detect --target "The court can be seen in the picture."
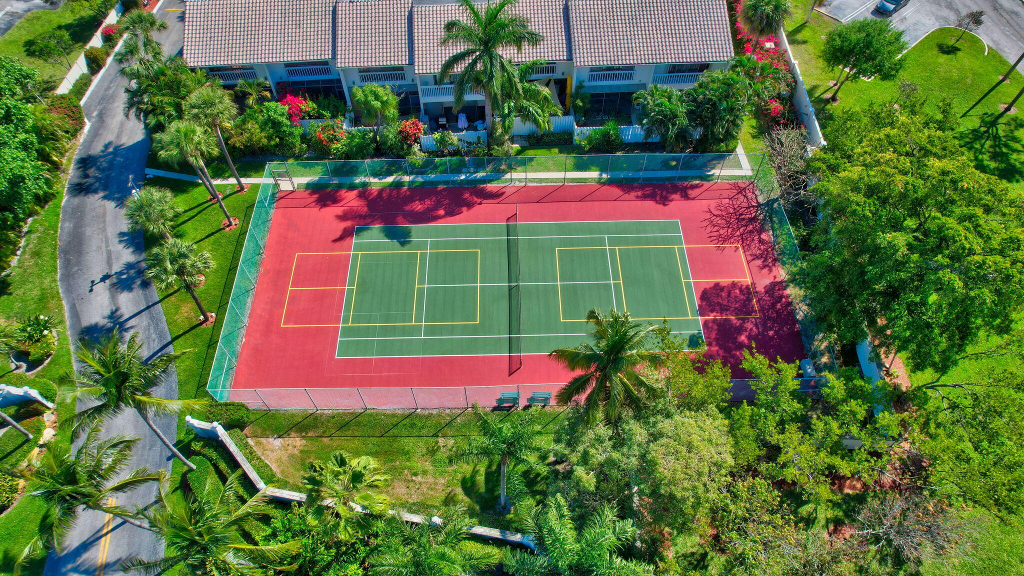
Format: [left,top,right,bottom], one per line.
[229,180,813,411]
